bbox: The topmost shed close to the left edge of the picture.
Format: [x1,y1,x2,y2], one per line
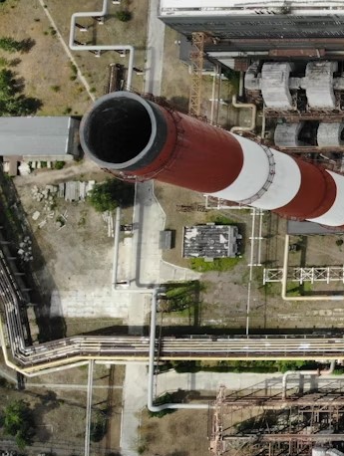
[0,116,84,159]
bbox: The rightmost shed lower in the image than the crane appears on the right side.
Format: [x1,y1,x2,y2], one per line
[183,224,243,259]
